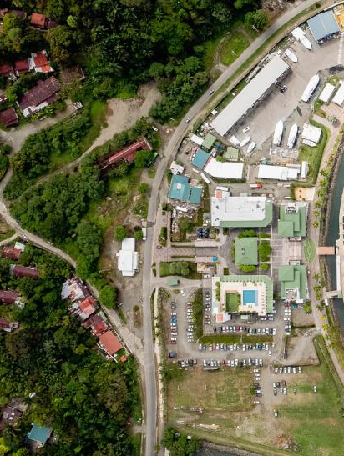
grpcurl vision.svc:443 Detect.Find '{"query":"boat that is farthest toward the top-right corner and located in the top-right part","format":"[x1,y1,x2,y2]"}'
[298,33,312,49]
